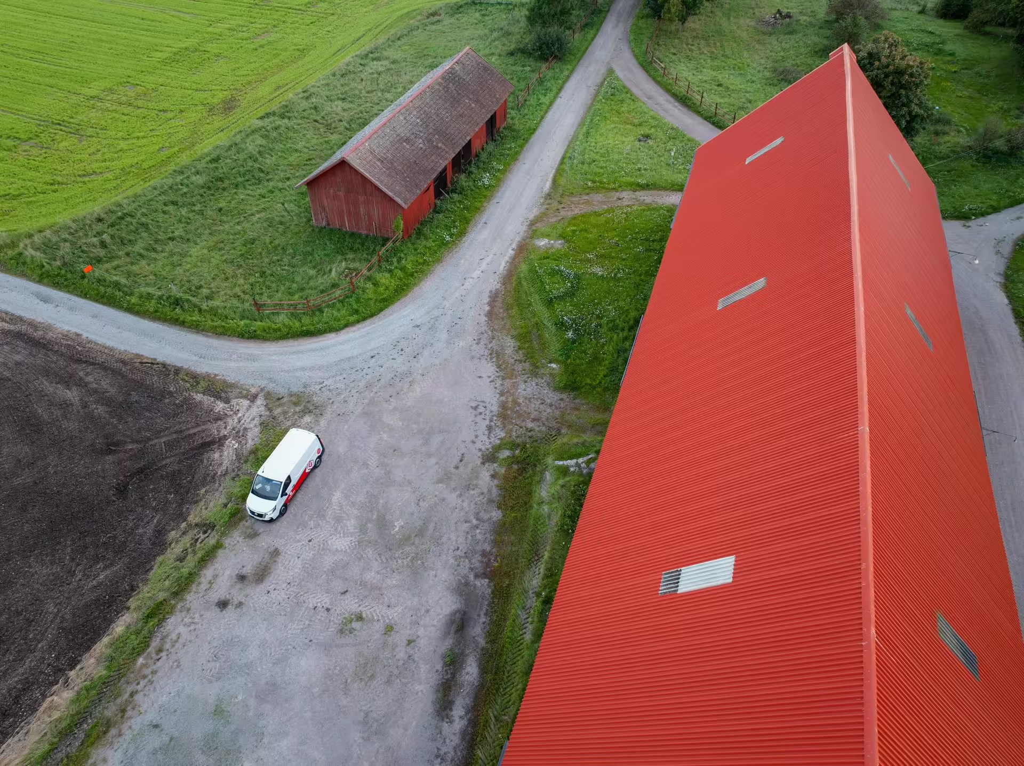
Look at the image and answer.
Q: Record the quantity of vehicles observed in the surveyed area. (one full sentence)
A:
There is 1 vehicle in the image.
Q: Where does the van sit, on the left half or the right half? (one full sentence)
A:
The van is on the left side of the image.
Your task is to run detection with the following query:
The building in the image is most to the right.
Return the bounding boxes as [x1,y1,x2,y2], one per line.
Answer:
[498,40,1024,766]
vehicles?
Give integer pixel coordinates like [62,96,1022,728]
[242,426,326,526]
